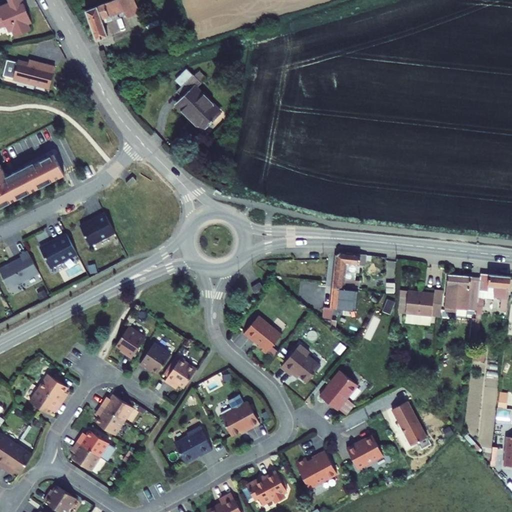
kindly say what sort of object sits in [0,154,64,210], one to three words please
building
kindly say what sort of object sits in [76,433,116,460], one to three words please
house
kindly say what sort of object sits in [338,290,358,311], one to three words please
barn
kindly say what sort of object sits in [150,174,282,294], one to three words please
roundabout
